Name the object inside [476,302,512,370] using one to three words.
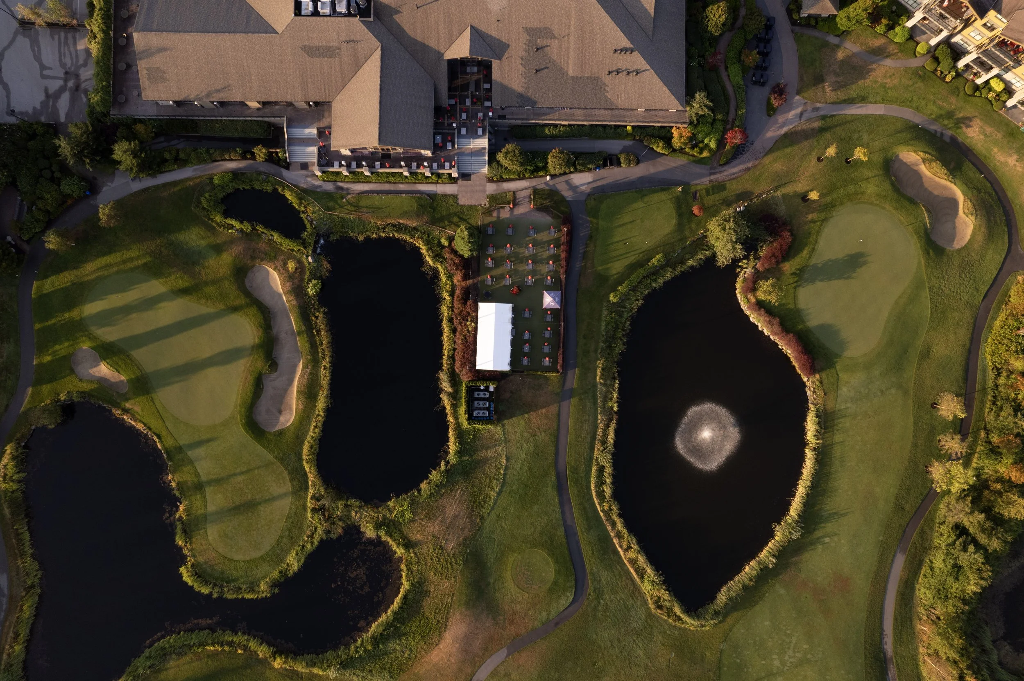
tent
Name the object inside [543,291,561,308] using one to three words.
umbrella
